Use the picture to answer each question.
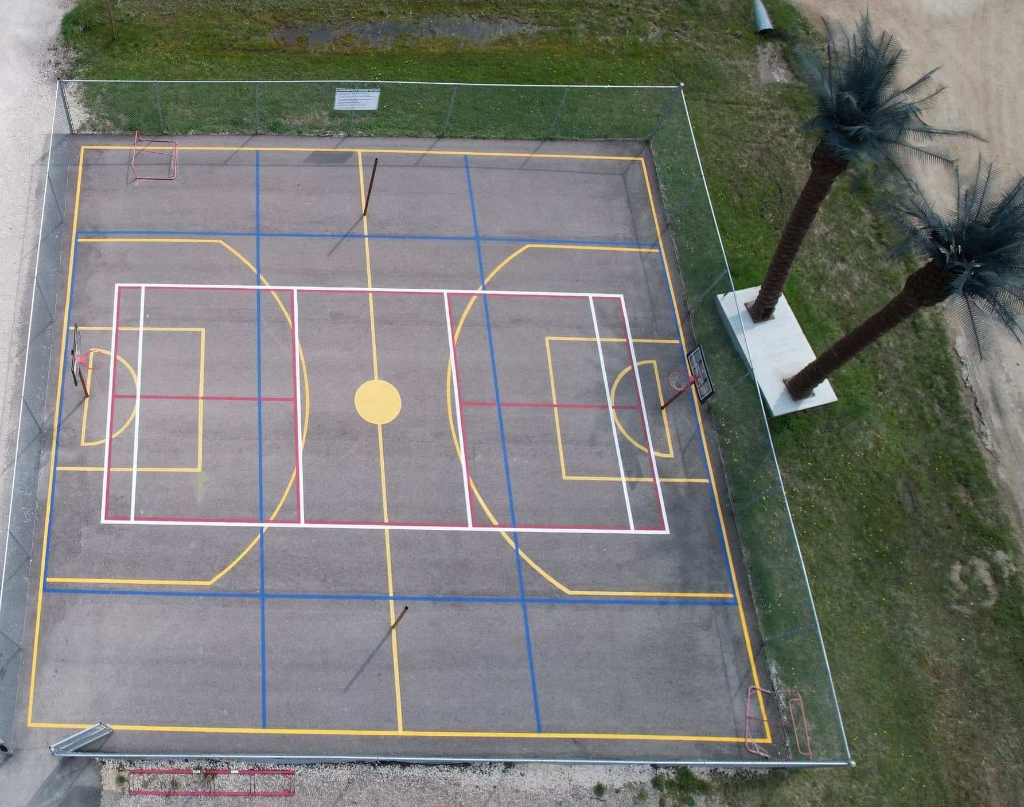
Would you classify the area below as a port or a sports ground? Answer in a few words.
sports ground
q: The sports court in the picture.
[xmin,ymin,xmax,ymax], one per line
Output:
[0,135,791,768]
